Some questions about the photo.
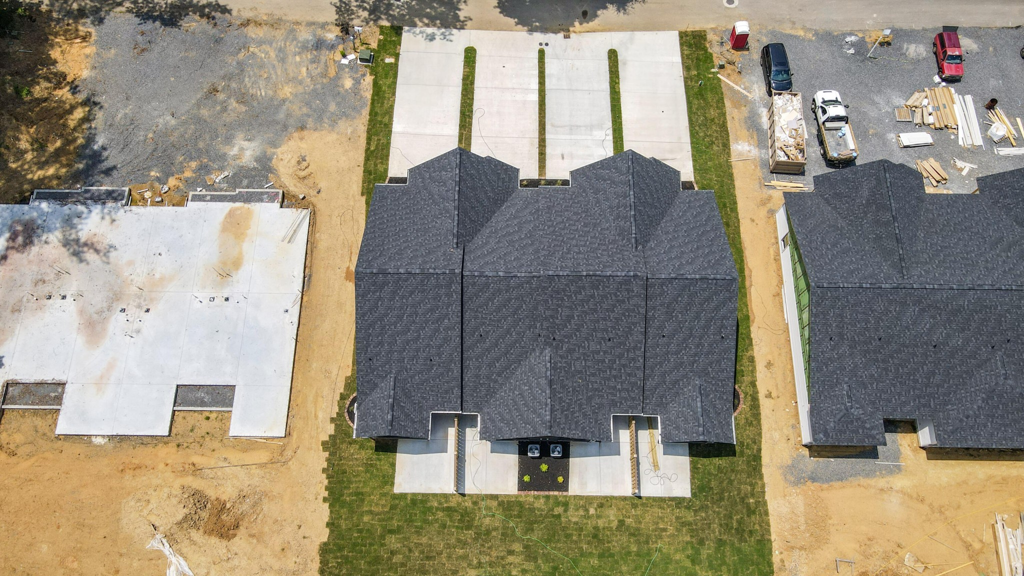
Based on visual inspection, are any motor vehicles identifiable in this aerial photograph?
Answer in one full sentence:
Yes, the image includes a motor vehicle.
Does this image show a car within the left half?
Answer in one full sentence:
No, within the left half there is no car.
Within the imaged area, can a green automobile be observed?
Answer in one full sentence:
No, there appears to be no green automobile in this shot.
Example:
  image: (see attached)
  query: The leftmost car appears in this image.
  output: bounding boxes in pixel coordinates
[761,44,794,93]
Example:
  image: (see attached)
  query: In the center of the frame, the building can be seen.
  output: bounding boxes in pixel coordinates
[352,148,737,444]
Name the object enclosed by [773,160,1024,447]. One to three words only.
house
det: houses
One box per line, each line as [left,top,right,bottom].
[773,160,1024,447]
[352,148,737,444]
